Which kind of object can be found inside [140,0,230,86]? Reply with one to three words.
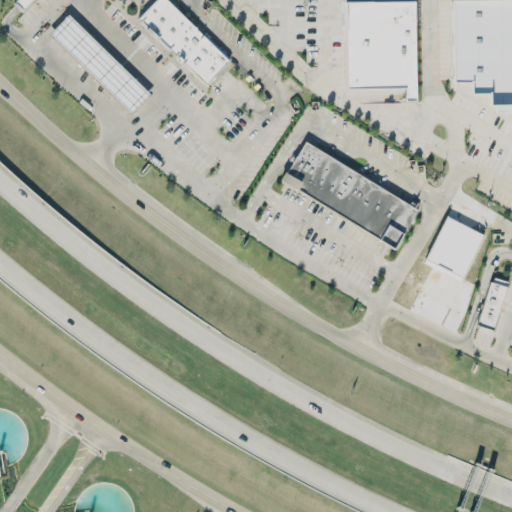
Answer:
building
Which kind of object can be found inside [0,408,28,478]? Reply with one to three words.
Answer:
storage tank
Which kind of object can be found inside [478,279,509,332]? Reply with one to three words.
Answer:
building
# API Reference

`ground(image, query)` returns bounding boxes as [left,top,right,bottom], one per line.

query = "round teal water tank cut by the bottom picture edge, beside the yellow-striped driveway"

[74,482,133,512]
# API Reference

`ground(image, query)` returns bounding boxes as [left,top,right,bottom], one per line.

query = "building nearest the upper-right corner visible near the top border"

[454,1,512,106]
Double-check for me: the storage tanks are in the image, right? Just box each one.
[0,408,28,478]
[74,482,133,512]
